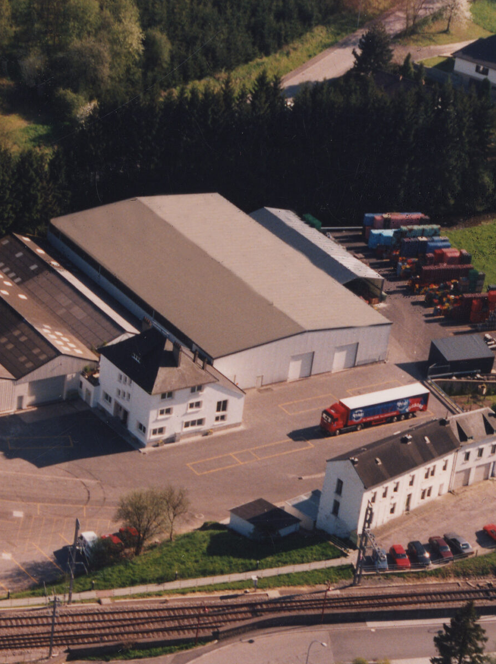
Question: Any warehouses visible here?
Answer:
Yes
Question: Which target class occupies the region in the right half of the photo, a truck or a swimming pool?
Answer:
truck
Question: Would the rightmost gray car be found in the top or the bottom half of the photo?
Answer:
bottom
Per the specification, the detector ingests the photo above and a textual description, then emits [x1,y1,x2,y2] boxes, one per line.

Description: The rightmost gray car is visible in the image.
[443,526,478,554]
